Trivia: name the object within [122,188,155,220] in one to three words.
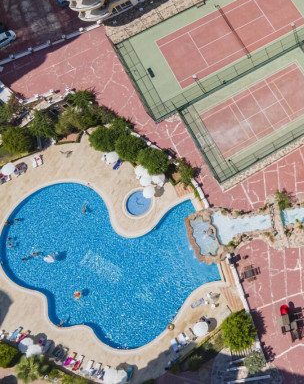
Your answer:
swimming pool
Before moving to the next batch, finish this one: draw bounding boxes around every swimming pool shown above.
[0,180,226,352]
[122,188,155,220]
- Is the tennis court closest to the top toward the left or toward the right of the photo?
right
